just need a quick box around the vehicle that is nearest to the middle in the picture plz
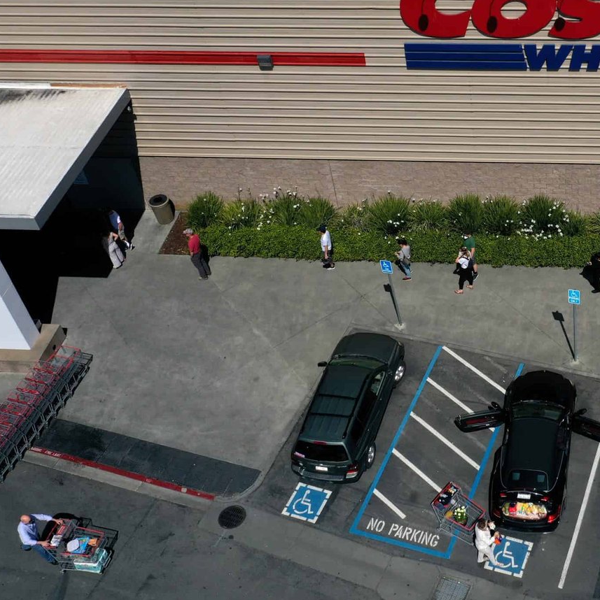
[287,333,400,487]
